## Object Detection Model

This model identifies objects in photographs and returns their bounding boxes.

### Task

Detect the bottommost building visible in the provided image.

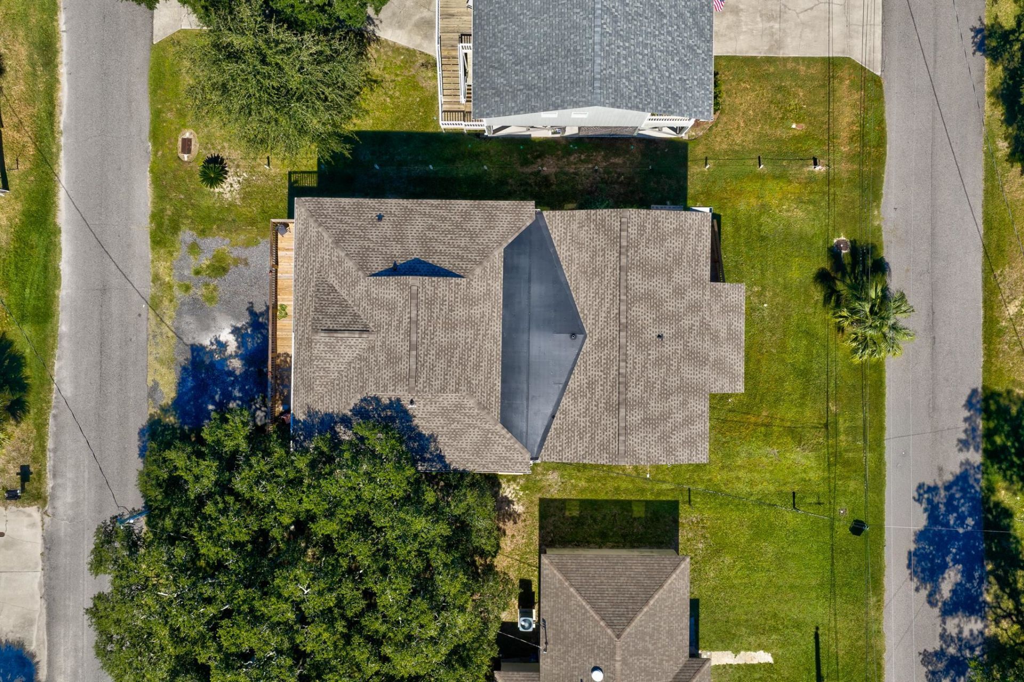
[493,544,712,682]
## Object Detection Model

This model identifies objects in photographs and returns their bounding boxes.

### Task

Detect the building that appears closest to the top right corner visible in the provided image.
[437,0,715,139]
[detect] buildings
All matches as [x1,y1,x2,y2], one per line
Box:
[437,0,715,139]
[267,197,745,476]
[493,544,712,682]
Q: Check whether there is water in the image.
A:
No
